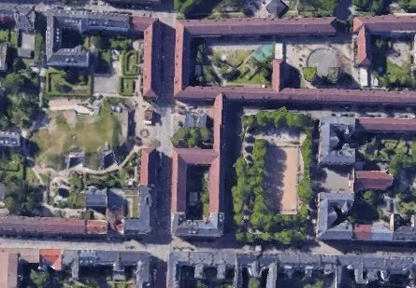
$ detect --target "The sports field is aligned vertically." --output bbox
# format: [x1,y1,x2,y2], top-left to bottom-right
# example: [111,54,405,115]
[266,144,300,215]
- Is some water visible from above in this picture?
No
